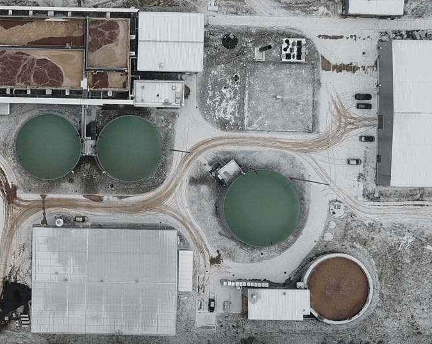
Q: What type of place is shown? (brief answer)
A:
industrial area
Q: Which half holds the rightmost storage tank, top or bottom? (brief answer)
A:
bottom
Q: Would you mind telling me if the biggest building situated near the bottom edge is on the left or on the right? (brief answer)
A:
left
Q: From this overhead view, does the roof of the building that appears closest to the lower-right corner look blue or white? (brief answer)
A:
white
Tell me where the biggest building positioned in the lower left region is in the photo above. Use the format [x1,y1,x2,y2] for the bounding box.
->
[31,226,177,336]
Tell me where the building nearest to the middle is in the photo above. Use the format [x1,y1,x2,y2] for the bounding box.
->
[217,160,243,183]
